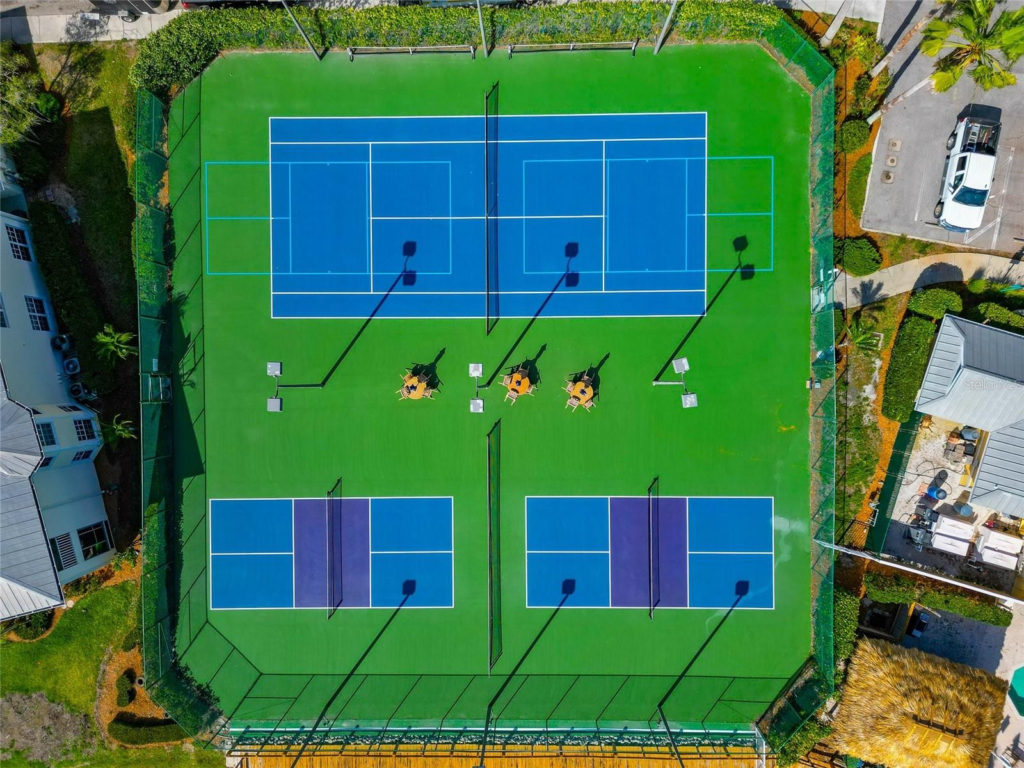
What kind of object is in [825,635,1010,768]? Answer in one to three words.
shed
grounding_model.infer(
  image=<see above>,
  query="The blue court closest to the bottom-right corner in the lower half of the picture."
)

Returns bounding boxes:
[525,497,775,609]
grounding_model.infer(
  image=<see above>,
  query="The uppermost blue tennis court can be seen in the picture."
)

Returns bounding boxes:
[205,113,773,318]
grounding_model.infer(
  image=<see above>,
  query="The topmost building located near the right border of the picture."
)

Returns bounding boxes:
[912,311,1024,523]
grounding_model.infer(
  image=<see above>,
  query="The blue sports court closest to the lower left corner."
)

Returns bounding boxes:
[210,497,454,609]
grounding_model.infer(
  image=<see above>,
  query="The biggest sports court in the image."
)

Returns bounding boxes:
[167,42,812,722]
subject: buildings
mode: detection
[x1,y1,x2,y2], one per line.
[825,635,1010,768]
[0,209,117,621]
[912,311,1024,523]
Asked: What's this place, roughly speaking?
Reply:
sports ground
